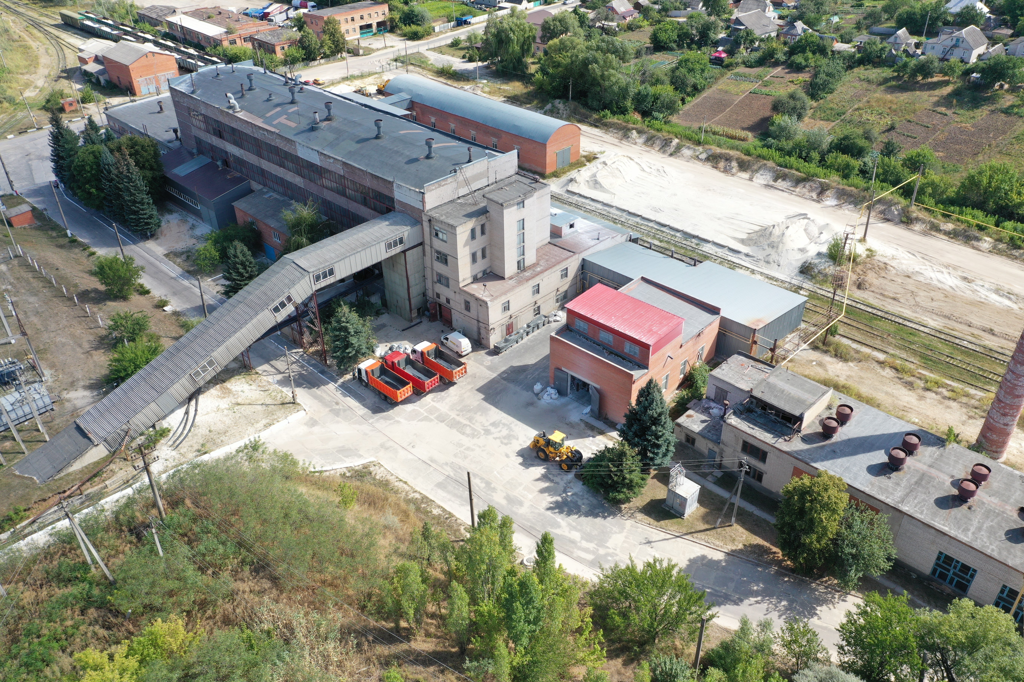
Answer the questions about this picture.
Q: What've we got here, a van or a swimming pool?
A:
van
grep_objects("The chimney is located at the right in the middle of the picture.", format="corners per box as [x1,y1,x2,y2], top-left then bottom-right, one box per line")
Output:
[973,346,1024,470]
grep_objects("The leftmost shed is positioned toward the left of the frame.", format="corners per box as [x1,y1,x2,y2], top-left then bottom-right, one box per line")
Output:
[0,196,36,228]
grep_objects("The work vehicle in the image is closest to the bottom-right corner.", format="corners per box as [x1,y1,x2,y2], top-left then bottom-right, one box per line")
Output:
[532,428,596,483]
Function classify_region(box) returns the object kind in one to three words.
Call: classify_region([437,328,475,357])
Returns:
van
